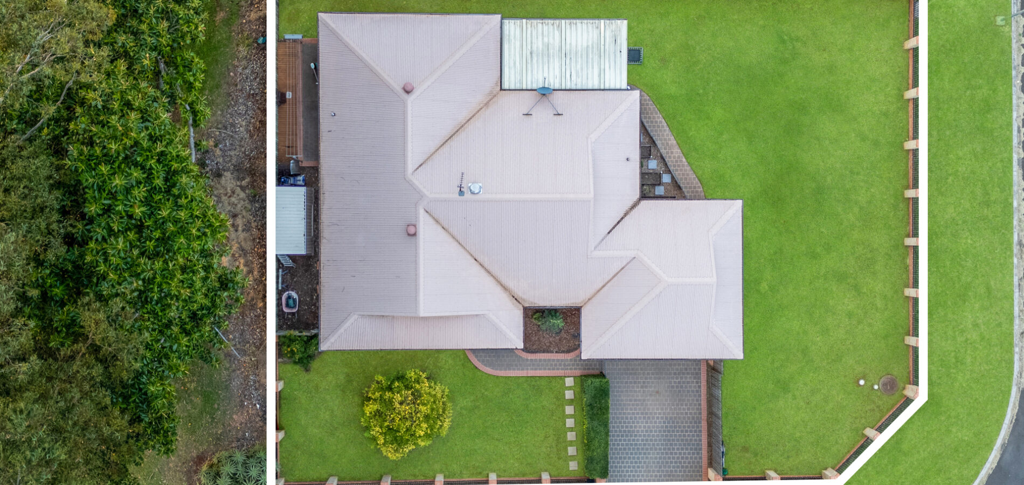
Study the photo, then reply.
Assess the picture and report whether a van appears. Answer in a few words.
No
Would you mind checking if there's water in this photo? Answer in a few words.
No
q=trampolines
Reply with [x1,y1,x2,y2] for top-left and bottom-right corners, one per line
[628,47,643,66]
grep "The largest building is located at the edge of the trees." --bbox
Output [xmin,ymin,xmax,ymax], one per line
[317,12,744,360]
